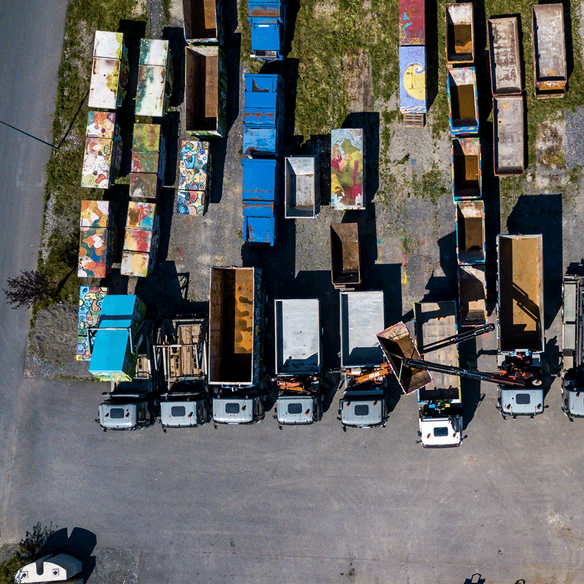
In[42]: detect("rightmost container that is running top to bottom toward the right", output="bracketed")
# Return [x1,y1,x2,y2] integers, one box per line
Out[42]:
[531,3,567,82]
